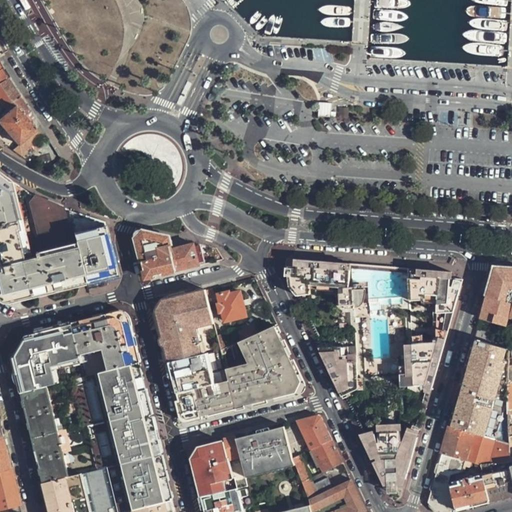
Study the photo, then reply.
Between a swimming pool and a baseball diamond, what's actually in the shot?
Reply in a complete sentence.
There is a swimming pool in the scene.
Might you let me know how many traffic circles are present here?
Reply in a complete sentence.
There are 2 traffic circles in the image.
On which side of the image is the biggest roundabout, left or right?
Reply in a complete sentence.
It is on the left.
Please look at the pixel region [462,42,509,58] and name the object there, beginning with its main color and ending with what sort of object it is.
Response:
white boat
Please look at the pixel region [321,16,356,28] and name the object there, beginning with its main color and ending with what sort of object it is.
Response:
white boat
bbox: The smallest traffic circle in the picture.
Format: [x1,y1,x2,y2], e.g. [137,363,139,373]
[195,10,244,59]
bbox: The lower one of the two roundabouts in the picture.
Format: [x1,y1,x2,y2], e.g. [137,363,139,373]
[96,112,206,222]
